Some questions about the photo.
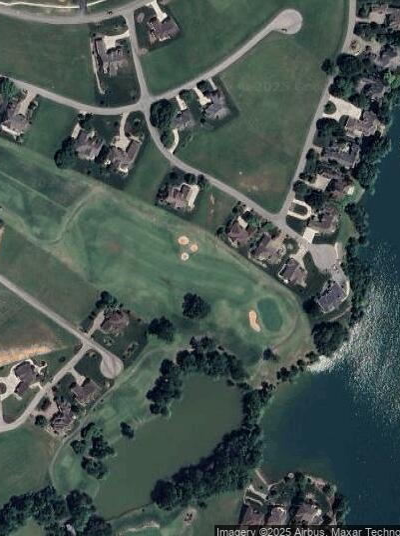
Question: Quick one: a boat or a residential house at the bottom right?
residential house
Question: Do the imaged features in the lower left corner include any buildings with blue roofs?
No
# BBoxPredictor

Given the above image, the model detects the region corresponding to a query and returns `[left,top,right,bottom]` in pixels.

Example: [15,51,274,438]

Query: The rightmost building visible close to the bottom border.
[293,500,328,534]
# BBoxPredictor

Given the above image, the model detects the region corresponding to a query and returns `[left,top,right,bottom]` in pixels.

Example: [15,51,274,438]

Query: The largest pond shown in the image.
[97,375,245,516]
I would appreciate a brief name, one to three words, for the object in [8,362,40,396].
house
